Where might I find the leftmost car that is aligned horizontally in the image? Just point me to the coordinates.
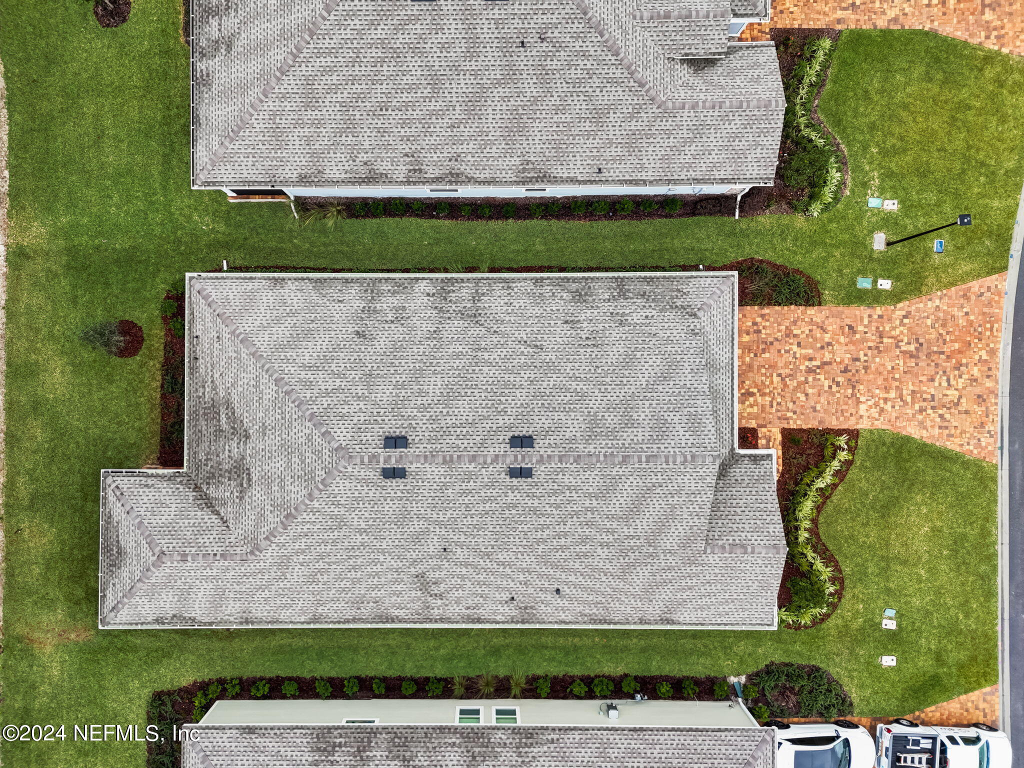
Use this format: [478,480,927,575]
[763,721,874,768]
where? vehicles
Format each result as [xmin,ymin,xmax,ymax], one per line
[873,718,1015,768]
[763,721,874,768]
